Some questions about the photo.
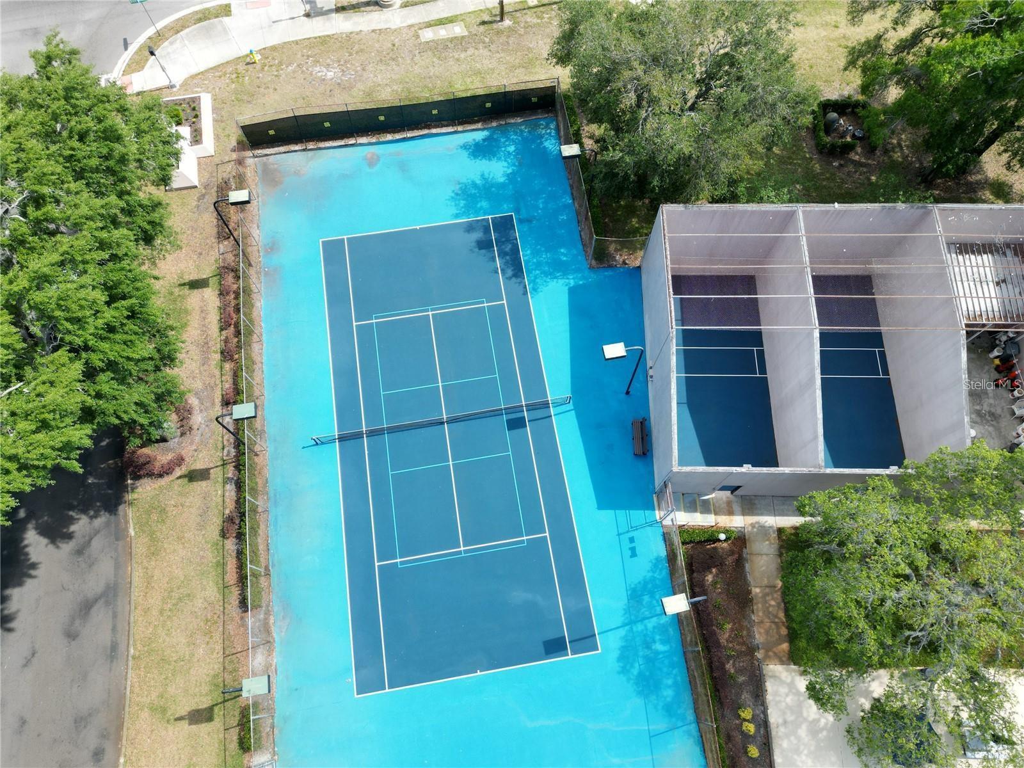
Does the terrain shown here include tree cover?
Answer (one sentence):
Yes, there's tree cover in this view.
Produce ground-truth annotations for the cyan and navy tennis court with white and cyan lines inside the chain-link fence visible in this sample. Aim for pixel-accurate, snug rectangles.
[256,118,707,768]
